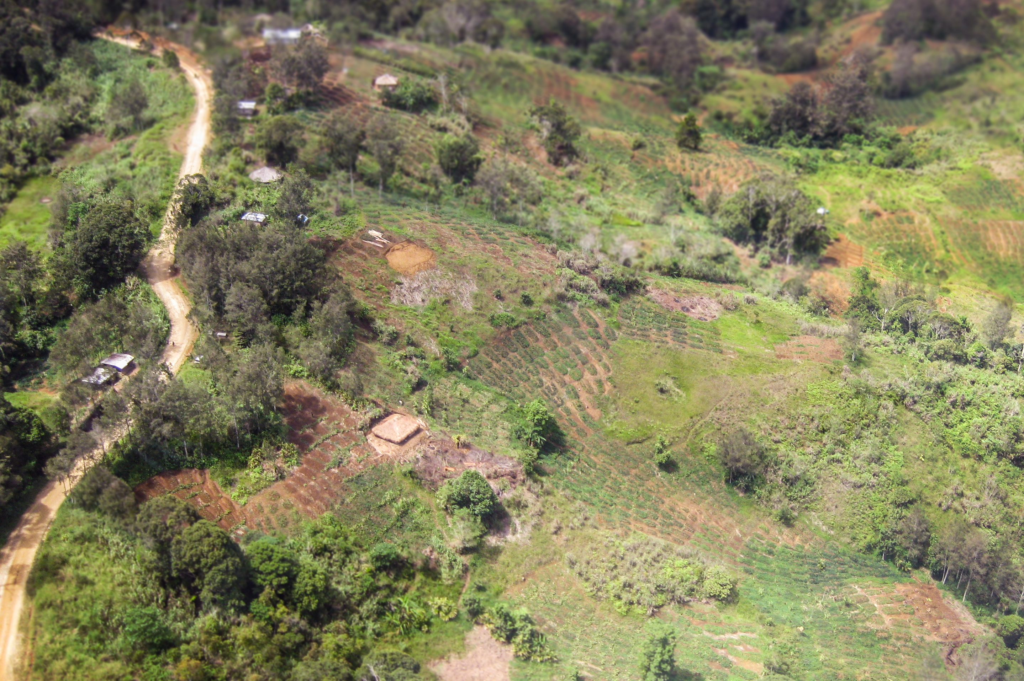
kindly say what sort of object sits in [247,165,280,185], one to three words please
shed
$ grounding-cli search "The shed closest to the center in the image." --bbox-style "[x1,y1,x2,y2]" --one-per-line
[371,414,422,450]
